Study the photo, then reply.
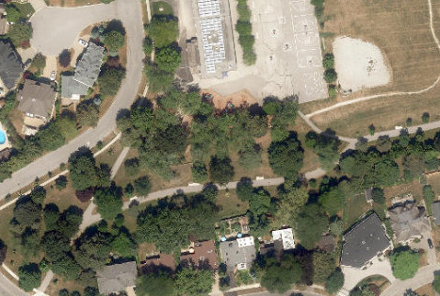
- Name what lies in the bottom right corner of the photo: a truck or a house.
house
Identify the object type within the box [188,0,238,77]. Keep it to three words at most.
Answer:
building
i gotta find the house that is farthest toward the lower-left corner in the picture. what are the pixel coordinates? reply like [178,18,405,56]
[96,262,138,296]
